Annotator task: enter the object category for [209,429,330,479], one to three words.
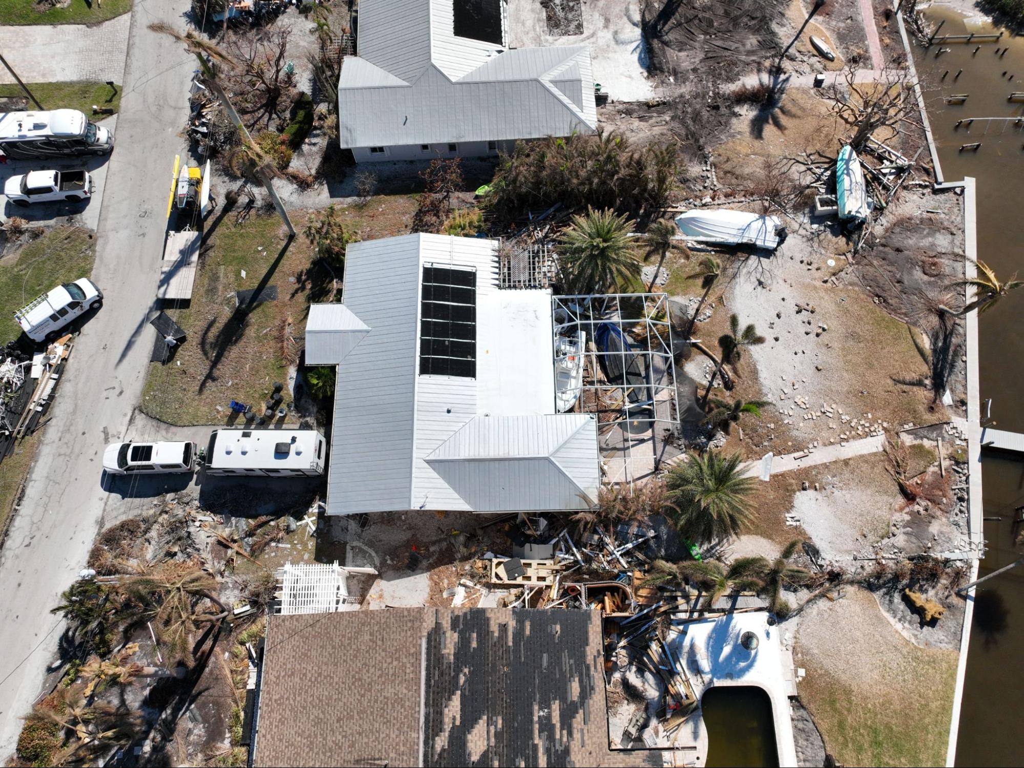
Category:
trailer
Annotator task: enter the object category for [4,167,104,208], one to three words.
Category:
truck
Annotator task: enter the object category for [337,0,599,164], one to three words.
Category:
house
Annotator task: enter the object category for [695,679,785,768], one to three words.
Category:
swimming pool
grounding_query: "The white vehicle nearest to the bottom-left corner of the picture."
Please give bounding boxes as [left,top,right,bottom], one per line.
[101,433,209,475]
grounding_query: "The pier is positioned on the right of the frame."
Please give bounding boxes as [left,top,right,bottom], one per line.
[979,418,1024,454]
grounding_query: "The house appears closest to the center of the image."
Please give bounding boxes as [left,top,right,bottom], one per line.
[305,232,603,515]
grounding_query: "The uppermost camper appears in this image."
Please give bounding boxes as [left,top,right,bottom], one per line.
[0,107,119,165]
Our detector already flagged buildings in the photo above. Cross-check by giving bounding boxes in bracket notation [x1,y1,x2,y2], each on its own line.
[337,0,599,164]
[305,232,603,515]
[250,610,702,768]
